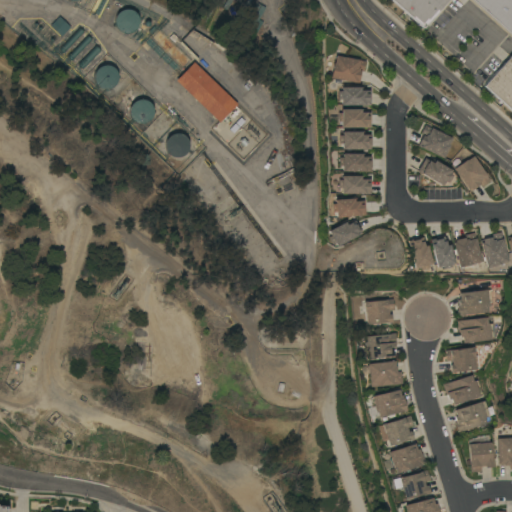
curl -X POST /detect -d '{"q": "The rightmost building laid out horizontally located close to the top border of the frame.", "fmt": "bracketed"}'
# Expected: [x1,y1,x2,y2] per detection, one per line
[392,0,453,28]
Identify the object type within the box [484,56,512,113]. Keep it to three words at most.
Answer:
building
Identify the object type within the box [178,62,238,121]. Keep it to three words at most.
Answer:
building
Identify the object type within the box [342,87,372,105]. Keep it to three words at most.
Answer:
house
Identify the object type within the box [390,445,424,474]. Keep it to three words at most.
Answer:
house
